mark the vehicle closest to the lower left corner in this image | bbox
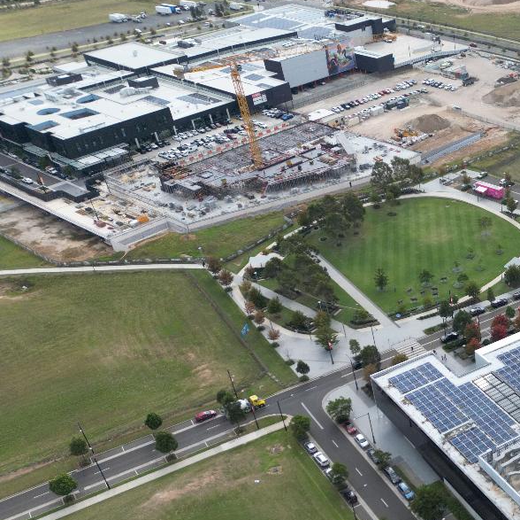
[195,410,217,423]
